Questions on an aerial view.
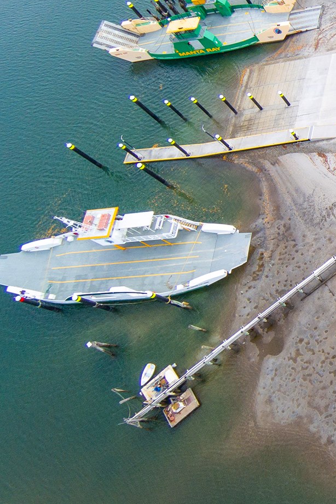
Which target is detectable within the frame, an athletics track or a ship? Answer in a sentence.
It is a ship that can be seen here.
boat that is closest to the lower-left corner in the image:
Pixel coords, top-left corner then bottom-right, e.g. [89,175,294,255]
[137,363,153,390]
